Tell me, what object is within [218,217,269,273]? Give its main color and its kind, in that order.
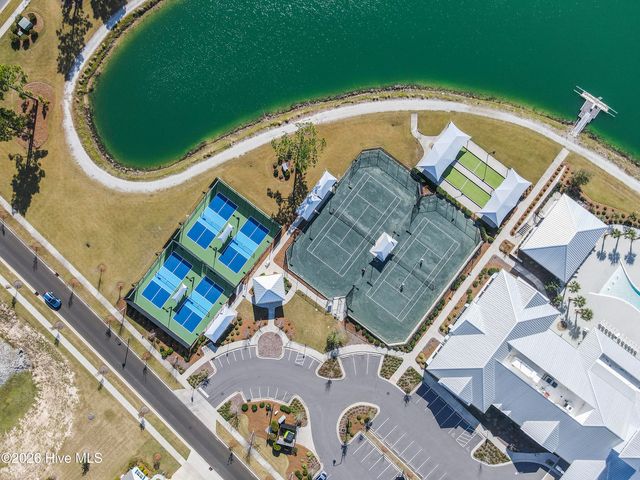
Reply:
blue sports court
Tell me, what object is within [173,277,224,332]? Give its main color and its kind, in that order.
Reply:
blue sports court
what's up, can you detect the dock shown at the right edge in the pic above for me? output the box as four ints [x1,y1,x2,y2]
[569,86,618,140]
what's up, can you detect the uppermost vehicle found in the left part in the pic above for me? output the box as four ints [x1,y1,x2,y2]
[41,292,61,308]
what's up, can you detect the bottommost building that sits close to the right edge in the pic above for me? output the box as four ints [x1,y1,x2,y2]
[427,269,640,480]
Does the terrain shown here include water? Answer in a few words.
Yes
